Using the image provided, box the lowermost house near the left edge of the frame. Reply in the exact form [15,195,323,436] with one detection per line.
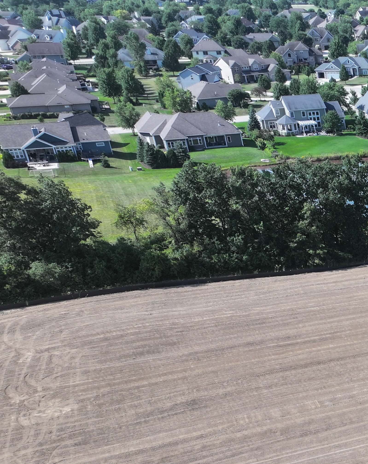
[0,119,121,162]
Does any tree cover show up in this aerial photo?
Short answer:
Yes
